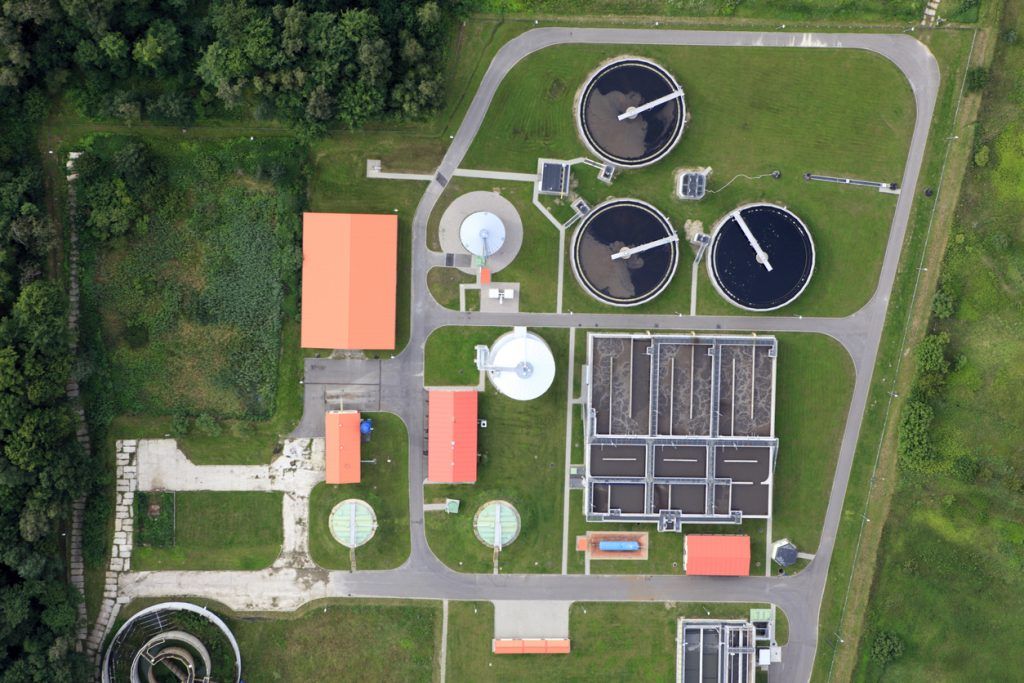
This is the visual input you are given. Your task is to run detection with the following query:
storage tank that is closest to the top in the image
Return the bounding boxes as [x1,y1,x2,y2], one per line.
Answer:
[577,56,687,166]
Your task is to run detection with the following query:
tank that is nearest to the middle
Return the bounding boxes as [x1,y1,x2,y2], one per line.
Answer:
[488,327,556,400]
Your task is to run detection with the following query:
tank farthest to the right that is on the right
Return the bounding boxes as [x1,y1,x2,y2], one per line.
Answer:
[707,202,817,311]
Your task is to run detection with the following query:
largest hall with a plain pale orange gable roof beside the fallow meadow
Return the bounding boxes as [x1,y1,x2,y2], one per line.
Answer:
[301,212,399,350]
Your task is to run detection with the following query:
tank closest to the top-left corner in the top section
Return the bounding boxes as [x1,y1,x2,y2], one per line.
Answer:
[459,211,505,260]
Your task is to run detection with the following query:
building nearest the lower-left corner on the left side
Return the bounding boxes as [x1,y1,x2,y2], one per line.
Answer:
[325,396,362,485]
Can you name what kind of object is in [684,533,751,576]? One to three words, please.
house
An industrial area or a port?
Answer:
industrial area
